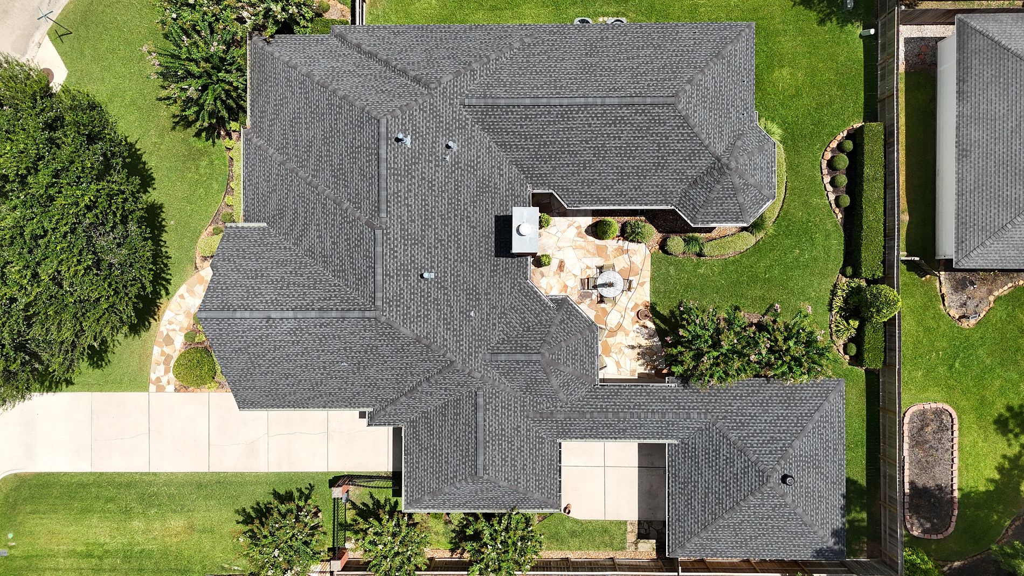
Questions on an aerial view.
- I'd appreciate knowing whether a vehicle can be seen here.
No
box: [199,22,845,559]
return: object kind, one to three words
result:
house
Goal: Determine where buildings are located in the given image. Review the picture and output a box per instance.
[936,12,1024,270]
[199,22,845,559]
